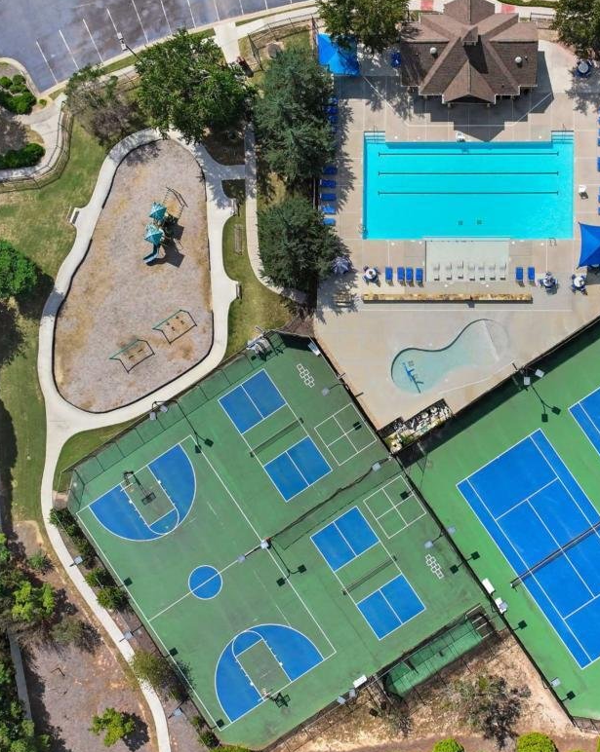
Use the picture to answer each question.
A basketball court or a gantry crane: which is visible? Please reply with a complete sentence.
Looking from above, you can make out a basketball court.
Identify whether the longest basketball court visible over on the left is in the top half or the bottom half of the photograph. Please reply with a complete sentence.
The longest basketball court visible over on the left sits in the bottom half of the picture.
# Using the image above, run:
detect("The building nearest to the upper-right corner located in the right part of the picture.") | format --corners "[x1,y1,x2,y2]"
[400,0,542,111]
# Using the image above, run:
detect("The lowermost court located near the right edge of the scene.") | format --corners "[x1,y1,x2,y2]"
[456,427,600,670]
